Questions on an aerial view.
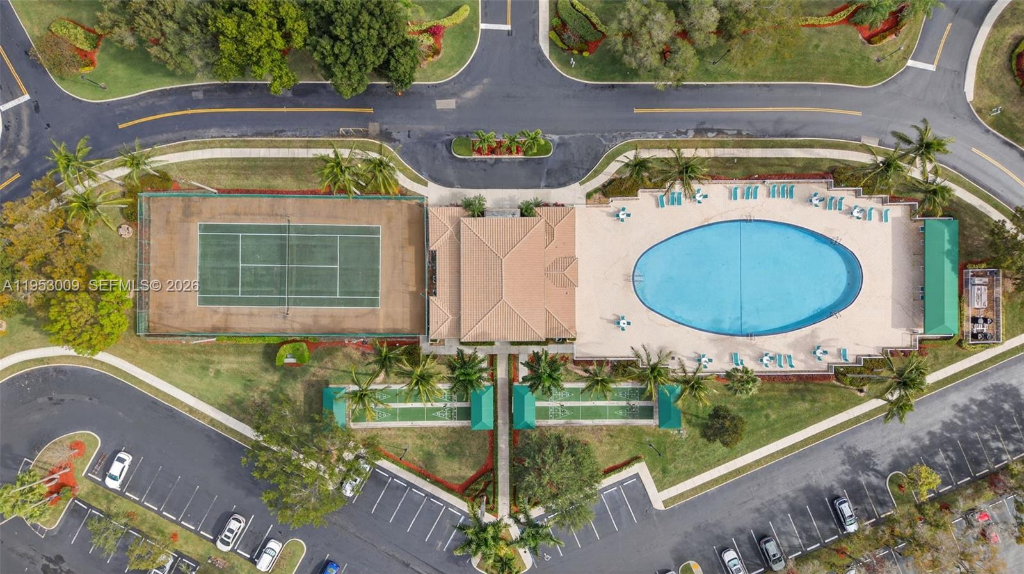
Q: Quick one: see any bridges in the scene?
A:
No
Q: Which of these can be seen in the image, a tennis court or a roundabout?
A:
tennis court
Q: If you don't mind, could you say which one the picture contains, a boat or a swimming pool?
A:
swimming pool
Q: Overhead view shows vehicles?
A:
Yes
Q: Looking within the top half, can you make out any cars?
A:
No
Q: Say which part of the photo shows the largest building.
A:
center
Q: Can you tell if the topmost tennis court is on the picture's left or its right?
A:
left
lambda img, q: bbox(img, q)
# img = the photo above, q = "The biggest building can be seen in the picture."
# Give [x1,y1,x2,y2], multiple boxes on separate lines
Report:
[429,206,579,342]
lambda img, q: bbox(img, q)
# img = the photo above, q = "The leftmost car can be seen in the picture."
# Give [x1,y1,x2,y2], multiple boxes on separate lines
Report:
[108,451,134,489]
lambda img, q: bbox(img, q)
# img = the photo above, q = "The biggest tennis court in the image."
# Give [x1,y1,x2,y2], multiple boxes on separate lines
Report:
[149,197,428,334]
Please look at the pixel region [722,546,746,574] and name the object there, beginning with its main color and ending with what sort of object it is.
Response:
white car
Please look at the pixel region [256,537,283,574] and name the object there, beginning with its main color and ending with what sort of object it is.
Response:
white car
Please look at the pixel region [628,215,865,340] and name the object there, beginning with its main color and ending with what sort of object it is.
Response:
blue swimming pool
